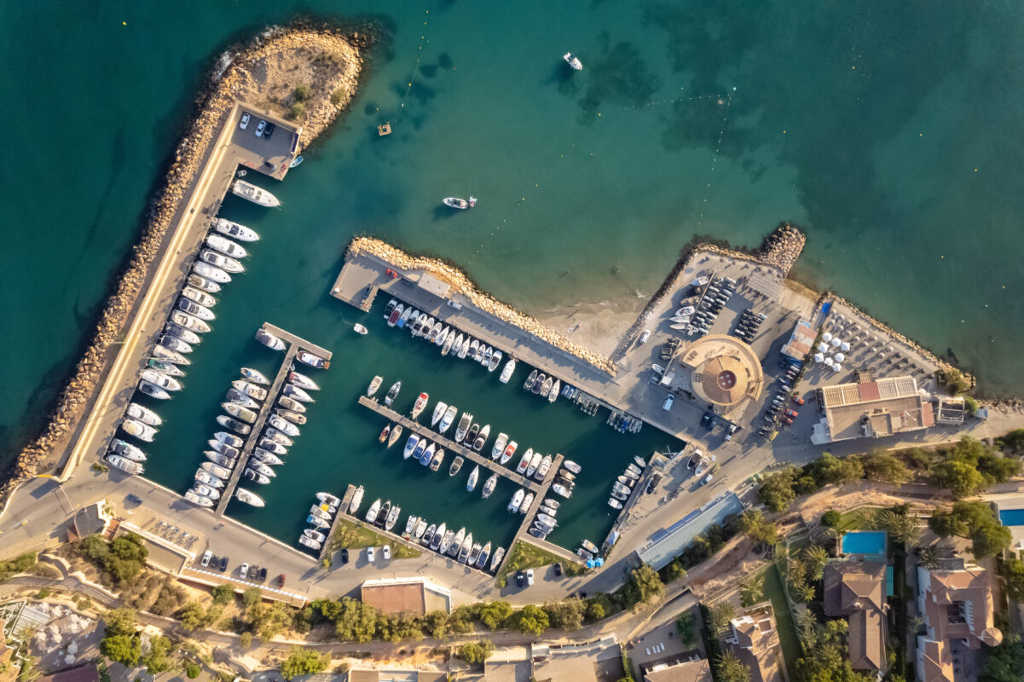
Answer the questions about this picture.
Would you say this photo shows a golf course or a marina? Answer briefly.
marina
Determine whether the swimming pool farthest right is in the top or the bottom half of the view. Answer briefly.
bottom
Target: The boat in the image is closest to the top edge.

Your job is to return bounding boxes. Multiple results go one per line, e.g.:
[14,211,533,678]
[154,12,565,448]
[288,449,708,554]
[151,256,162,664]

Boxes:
[562,51,582,69]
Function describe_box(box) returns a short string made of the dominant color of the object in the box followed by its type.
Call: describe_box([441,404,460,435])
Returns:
white boat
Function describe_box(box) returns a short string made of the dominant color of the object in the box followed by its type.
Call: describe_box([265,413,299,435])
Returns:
white boat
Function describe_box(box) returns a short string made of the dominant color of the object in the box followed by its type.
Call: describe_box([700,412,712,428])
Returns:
black vehicle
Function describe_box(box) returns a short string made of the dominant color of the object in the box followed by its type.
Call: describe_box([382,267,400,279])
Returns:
red vehicle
